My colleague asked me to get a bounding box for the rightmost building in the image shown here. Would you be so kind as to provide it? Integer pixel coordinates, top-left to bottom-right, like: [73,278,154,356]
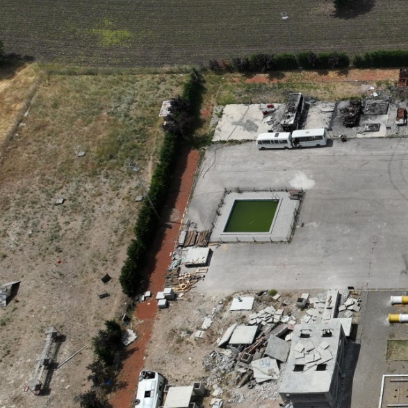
[280,324,345,408]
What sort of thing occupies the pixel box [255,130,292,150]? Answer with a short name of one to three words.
vehicle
